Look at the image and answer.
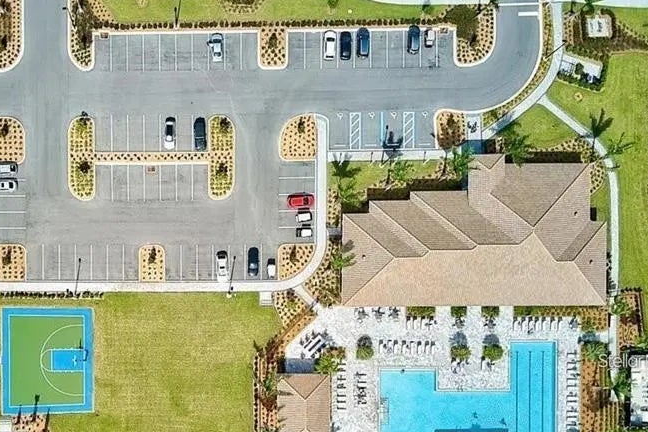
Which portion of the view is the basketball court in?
bottom left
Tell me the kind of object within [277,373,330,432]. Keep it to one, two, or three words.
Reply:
building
